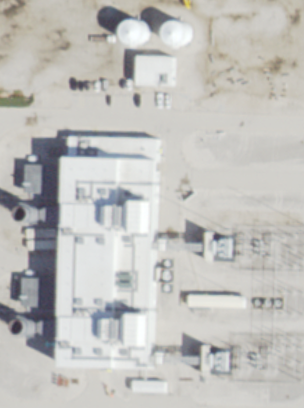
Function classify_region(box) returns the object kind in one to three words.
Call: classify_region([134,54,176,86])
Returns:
building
